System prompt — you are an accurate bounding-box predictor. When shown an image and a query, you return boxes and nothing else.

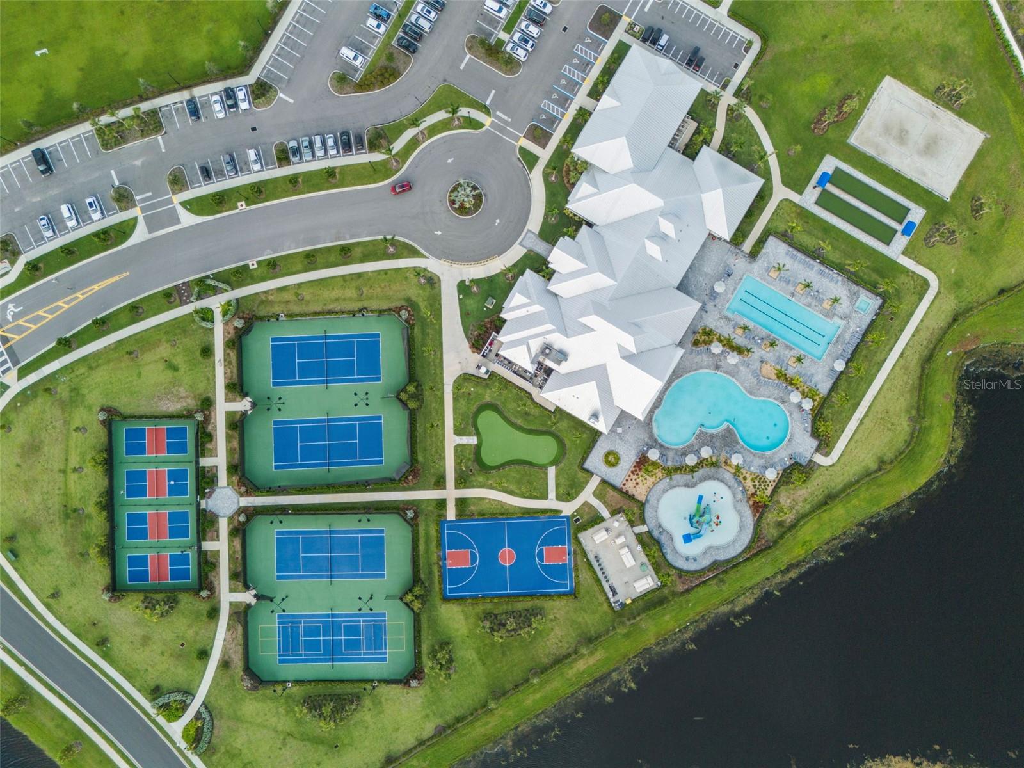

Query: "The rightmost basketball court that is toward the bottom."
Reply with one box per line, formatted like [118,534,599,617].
[441,515,574,599]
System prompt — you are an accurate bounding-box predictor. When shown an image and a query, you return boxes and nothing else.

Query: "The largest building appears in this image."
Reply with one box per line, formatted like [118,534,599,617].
[497,44,764,435]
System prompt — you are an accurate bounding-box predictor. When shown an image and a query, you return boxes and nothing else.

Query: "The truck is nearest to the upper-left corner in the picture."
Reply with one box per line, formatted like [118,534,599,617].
[29,147,51,176]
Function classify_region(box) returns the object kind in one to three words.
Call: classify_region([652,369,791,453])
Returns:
swimming pool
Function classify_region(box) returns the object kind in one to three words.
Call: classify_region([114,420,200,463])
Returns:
sports court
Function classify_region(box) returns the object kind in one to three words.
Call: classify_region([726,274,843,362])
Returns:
swimming pool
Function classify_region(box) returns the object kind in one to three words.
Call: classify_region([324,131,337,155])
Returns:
vehicle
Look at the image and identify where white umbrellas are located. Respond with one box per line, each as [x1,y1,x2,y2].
[648,448,659,460]
[765,468,776,479]
[789,391,801,403]
[832,359,844,370]
[710,342,722,353]
[801,398,812,410]
[731,453,742,464]
[700,446,712,457]
[727,353,738,364]
[713,280,725,292]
